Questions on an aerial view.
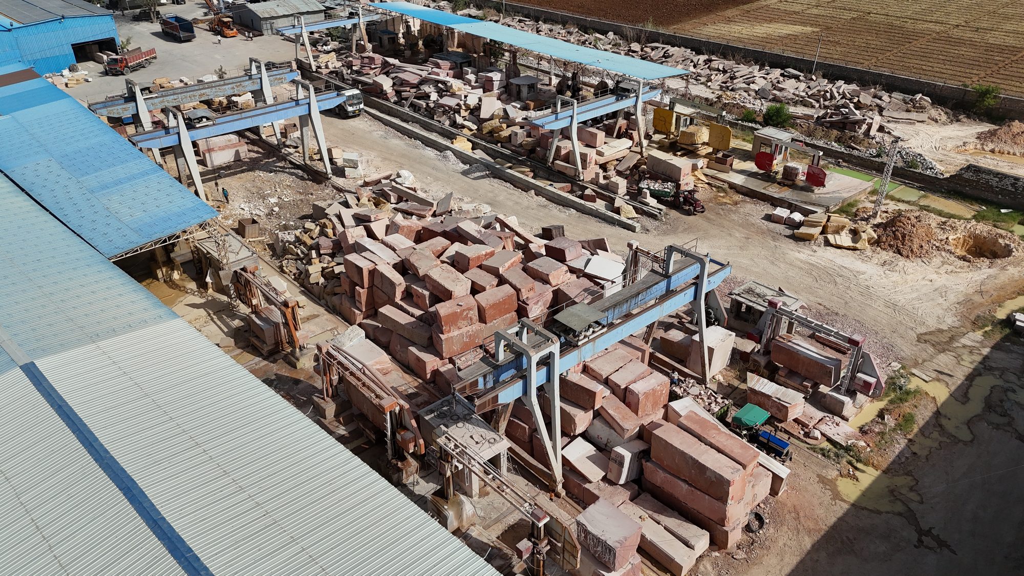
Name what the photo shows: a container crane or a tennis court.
container crane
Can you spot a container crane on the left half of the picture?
Yes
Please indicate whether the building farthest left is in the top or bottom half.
top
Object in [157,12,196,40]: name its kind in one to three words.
truck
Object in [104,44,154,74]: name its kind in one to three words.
truck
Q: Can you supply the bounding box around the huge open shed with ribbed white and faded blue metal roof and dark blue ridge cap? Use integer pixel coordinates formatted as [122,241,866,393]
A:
[0,168,503,576]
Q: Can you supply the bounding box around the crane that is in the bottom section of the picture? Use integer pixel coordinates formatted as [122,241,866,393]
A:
[436,227,732,484]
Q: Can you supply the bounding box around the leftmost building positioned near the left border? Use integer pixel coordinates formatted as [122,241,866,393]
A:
[0,1,120,75]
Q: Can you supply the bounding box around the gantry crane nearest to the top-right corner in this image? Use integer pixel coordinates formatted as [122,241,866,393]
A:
[523,73,662,179]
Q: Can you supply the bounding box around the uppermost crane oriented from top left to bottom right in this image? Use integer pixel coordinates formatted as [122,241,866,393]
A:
[181,0,238,36]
